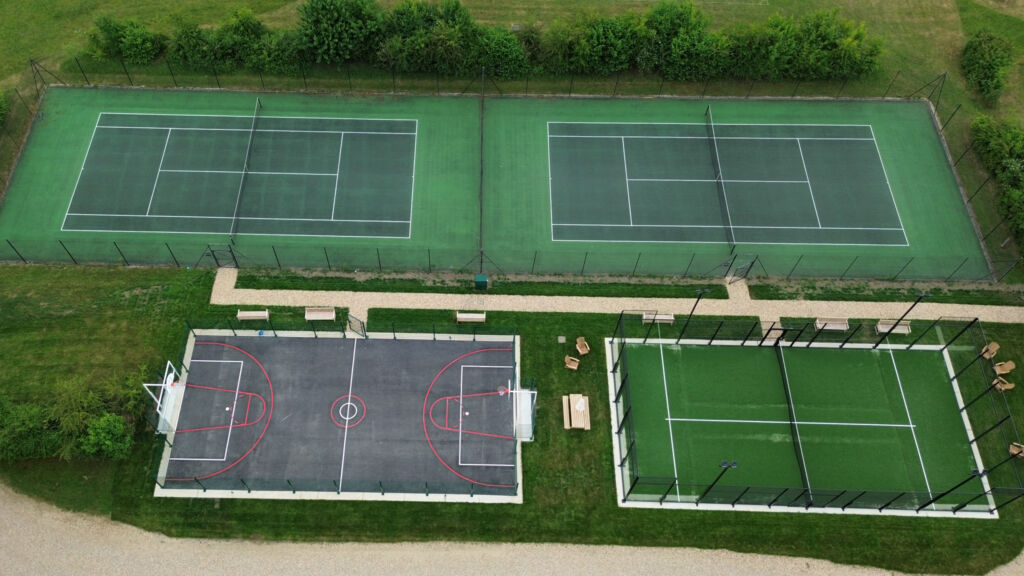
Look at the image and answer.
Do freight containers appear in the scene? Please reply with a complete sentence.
No, I can't see a single freight container in this photo.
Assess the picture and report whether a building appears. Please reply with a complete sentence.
No, the picture doesn't show any building.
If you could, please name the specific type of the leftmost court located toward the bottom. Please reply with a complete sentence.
From above, the leftmost court located toward the bottom can be identified as a basketball court.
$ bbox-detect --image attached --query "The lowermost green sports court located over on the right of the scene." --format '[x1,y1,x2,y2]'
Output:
[607,337,1000,519]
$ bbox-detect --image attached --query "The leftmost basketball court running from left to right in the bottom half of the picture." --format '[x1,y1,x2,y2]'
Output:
[153,329,538,505]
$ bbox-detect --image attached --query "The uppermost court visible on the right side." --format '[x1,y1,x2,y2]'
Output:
[482,94,998,281]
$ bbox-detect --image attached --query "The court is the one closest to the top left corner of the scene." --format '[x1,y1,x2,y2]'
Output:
[0,86,482,272]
